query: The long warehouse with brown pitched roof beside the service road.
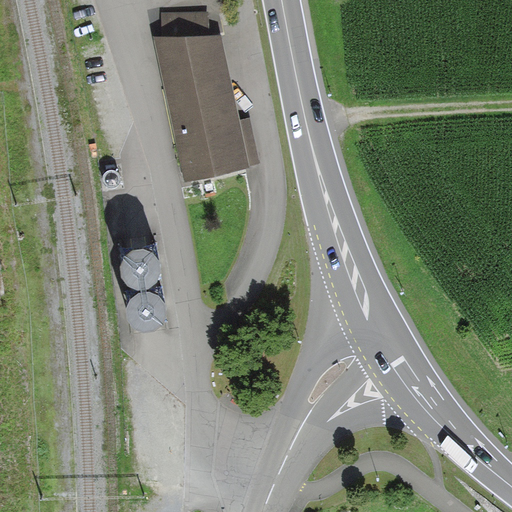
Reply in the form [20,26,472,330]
[152,11,258,182]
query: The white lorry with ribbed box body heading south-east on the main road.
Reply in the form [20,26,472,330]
[440,436,480,474]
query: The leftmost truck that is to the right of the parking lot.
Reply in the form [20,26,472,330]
[231,78,254,111]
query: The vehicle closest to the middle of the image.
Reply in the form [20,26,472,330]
[328,247,340,270]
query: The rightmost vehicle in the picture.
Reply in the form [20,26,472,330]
[474,445,493,466]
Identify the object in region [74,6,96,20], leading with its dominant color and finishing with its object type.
gray car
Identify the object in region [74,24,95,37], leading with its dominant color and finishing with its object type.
white vehicle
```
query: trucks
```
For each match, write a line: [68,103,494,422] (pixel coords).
[440,436,480,474]
[231,78,254,111]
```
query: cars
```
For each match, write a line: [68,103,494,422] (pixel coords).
[474,445,493,466]
[268,8,280,32]
[375,350,390,374]
[84,57,104,68]
[312,98,324,123]
[328,247,340,270]
[86,73,106,84]
[74,6,96,20]
[290,114,302,138]
[74,24,95,37]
